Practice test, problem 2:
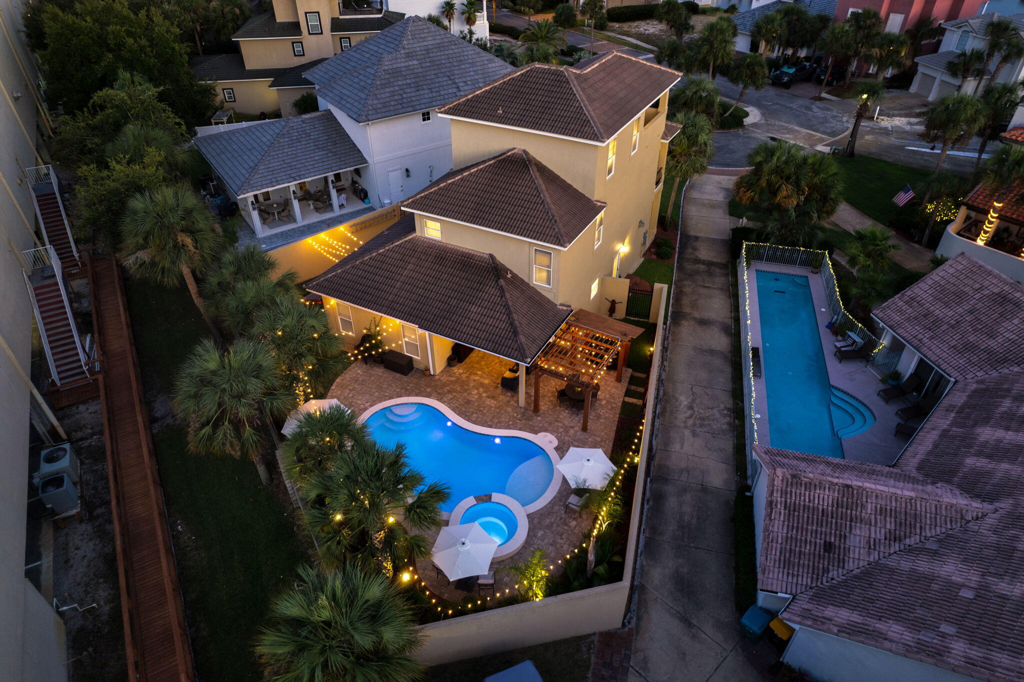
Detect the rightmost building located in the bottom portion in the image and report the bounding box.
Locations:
[732,249,1024,682]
